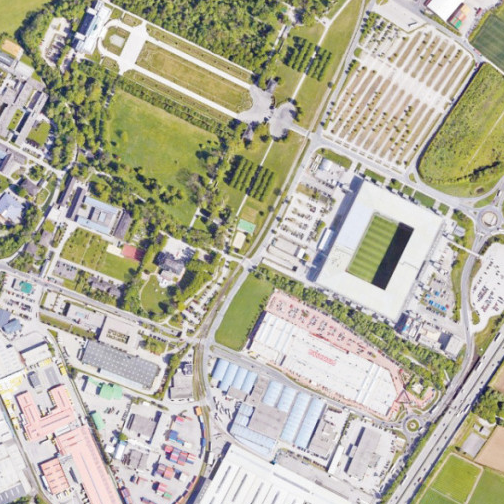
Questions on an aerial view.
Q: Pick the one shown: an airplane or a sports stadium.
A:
sports stadium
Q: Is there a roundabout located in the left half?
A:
No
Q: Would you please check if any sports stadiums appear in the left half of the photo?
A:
No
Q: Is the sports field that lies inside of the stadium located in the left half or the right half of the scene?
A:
right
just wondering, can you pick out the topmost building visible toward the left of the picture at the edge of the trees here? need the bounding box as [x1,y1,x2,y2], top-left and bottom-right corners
[71,0,111,54]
